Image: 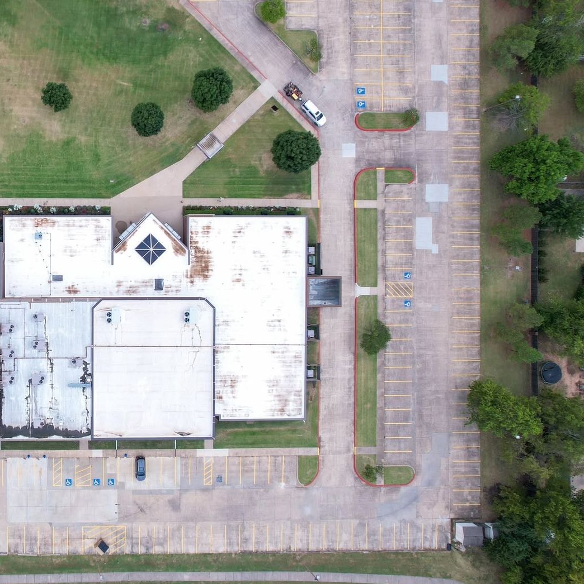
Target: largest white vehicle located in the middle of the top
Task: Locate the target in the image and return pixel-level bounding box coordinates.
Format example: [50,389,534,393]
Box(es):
[302,100,324,126]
